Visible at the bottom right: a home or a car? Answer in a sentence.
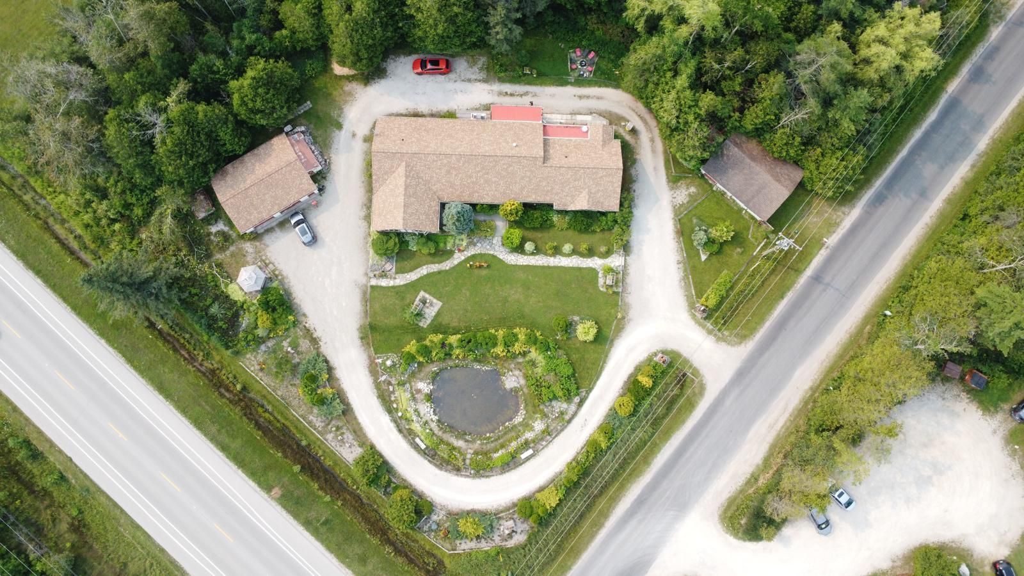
You can see a car at the bottom right.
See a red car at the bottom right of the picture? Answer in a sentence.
No, there is no red car at the bottom right of the picture.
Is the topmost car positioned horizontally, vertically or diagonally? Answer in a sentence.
The topmost car is laid out horizontally.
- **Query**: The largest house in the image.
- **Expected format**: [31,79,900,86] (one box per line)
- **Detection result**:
[370,105,624,233]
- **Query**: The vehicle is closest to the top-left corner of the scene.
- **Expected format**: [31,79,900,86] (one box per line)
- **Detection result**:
[289,210,318,250]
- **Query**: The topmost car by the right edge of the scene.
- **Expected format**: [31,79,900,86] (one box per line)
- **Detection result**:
[1002,395,1024,427]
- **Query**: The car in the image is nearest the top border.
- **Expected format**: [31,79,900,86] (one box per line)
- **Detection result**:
[412,56,451,76]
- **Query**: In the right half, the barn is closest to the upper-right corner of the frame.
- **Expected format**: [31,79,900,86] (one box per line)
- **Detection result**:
[694,121,803,225]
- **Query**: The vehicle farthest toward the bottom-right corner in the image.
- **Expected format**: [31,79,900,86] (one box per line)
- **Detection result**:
[990,554,1017,576]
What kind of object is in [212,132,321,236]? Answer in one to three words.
building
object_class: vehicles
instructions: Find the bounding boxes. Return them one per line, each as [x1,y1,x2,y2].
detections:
[1002,395,1024,427]
[990,554,1017,576]
[412,56,451,76]
[804,503,835,541]
[828,480,860,516]
[289,210,318,250]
